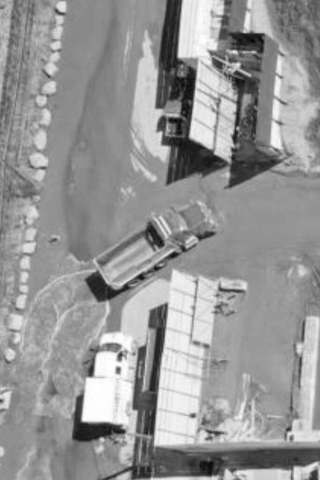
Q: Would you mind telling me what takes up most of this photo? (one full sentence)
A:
The largest share of the image is taken up by paved ground.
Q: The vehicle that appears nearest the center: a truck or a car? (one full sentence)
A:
Looking closely, the vehicle that appears nearest the center is a truck.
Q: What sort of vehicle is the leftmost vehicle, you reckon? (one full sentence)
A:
The leftmost vehicle can be classified as a truck.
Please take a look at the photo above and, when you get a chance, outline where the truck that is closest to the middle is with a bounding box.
[86,197,226,293]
